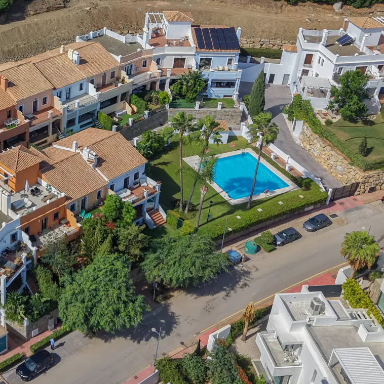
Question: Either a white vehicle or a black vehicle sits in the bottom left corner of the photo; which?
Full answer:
What appears in the bottom left corner of the photo is a black vehicle.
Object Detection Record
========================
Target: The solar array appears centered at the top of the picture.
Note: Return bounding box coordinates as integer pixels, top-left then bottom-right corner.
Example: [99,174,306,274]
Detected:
[195,27,239,49]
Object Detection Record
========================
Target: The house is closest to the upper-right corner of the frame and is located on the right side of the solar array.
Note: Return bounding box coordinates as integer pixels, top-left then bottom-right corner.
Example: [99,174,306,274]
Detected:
[292,13,384,110]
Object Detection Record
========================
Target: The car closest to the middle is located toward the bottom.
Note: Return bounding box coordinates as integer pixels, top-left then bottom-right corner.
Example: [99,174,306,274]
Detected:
[276,224,303,245]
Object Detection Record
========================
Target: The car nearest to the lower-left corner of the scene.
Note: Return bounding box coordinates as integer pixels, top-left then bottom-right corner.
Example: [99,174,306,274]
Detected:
[14,345,54,382]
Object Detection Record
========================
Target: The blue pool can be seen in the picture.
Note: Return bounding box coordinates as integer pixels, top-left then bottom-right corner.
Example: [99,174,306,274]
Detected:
[184,148,300,208]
